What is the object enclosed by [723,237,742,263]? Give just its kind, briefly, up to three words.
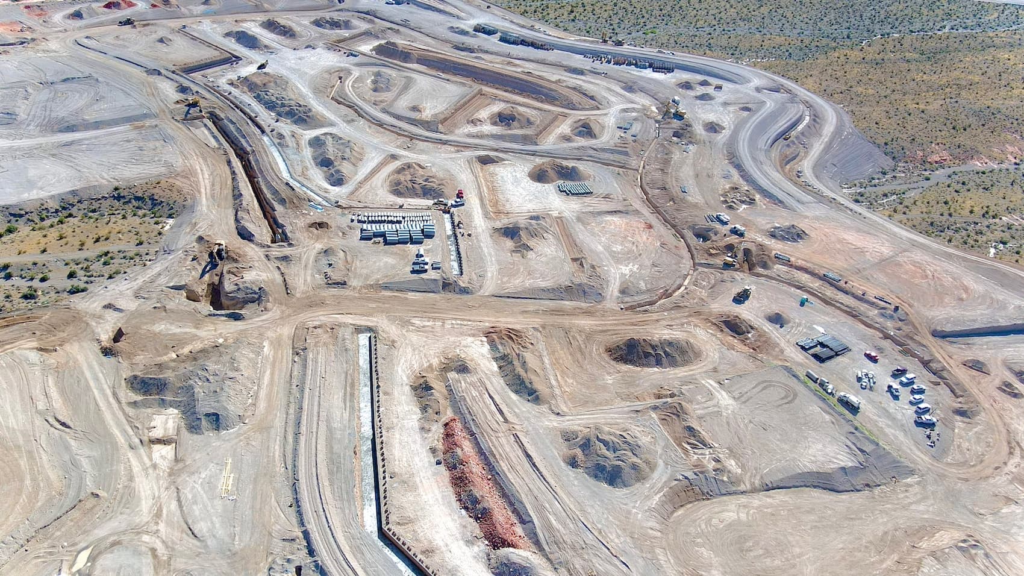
work vehicle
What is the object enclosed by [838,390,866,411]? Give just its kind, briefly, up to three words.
truck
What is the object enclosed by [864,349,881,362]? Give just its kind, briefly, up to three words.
vehicle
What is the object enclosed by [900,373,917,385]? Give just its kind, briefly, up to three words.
vehicle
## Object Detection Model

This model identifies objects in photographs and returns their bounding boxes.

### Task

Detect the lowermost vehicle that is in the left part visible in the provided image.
[209,239,226,268]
